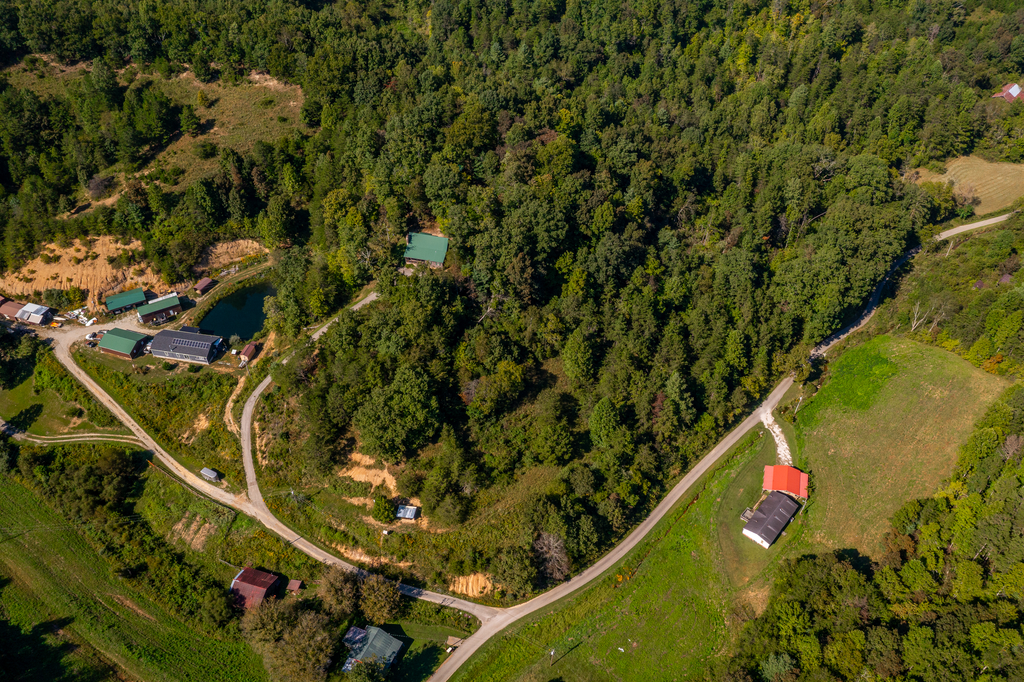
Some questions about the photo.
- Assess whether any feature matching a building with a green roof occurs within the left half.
Yes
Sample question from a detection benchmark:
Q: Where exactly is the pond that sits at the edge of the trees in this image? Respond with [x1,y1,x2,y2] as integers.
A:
[199,285,286,341]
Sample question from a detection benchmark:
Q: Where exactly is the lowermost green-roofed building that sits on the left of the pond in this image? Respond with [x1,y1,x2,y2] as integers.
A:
[98,328,148,361]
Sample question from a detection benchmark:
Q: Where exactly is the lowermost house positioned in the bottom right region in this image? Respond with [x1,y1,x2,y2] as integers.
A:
[742,491,798,551]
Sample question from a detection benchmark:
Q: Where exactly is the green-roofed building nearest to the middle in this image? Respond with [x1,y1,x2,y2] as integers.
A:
[404,232,452,272]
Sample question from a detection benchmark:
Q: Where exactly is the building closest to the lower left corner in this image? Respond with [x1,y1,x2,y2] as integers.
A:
[229,567,279,607]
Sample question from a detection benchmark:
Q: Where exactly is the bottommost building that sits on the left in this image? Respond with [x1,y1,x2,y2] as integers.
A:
[342,623,403,678]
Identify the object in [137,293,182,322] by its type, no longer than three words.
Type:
barn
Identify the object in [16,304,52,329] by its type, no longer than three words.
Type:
shed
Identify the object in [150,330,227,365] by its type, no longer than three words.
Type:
house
